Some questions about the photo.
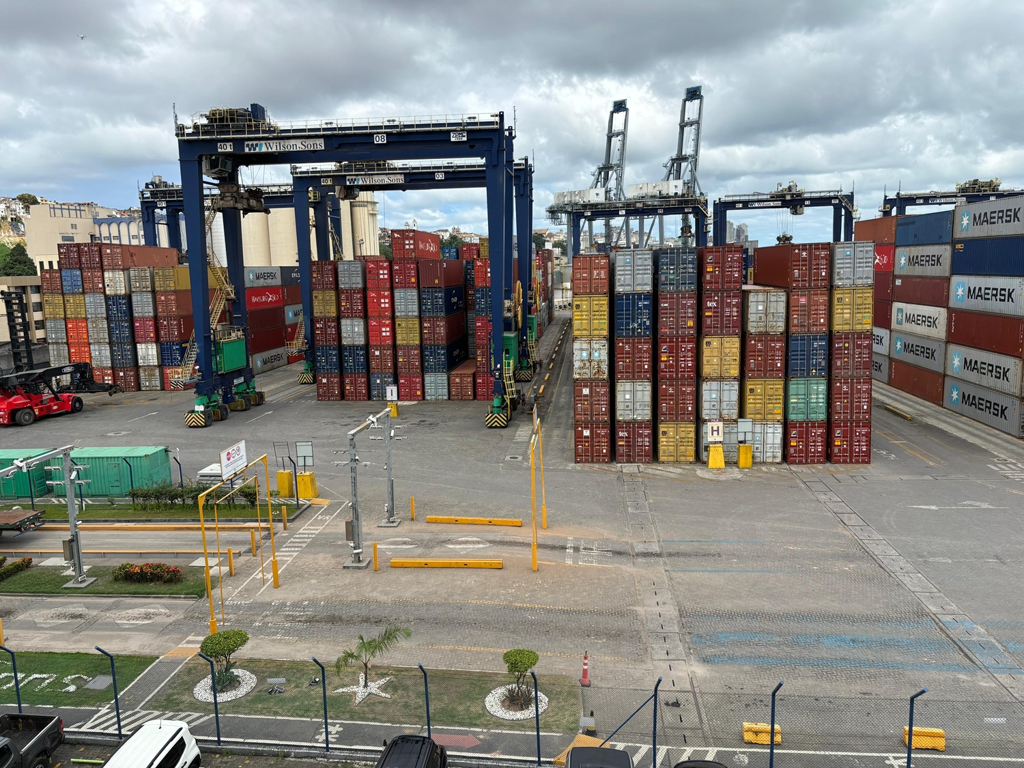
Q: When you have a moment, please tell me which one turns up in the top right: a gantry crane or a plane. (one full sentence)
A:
The feature located in the top right is a gantry crane.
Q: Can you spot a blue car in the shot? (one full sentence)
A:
No, no blue car can be seen from above.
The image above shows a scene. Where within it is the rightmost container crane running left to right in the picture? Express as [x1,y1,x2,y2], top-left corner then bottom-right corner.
[870,173,1024,244]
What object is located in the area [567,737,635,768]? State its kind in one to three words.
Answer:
car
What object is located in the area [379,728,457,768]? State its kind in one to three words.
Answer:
car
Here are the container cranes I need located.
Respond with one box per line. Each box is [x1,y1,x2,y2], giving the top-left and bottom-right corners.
[166,102,551,427]
[536,98,623,268]
[710,181,873,247]
[870,173,1024,244]
[277,140,561,383]
[574,185,727,256]
[605,86,702,250]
